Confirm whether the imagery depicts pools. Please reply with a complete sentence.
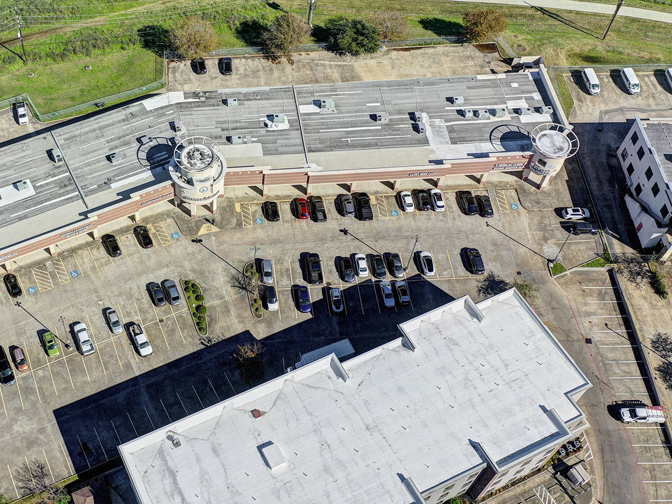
No, the picture doesn't show any pool.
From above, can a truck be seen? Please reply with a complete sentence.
Yes, there's a truck here.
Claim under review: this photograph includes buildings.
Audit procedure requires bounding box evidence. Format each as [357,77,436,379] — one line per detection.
[118,288,592,504]
[614,116,672,260]
[72,487,113,504]
[0,64,578,270]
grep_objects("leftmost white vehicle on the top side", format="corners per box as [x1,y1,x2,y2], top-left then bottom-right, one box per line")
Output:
[13,100,29,125]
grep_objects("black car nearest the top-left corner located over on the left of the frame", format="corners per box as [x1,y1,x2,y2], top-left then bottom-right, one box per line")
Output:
[194,58,208,78]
